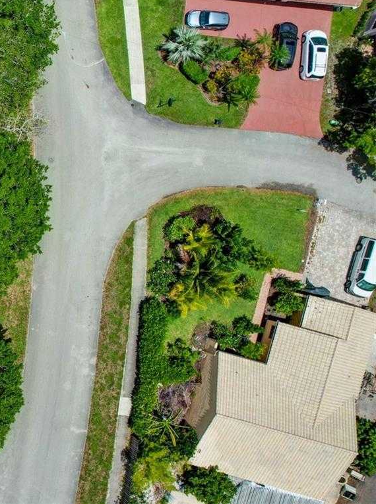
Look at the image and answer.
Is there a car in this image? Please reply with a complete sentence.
Yes, the image includes a car.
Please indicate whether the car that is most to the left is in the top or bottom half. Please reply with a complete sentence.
It is in the top half that the car that is most to the left appears.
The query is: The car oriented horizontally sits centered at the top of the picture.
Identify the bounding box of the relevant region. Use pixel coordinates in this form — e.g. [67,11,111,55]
[183,6,233,31]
